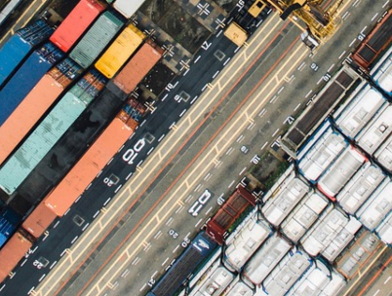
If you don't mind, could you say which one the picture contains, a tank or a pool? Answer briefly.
tank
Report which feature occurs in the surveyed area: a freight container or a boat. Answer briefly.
freight container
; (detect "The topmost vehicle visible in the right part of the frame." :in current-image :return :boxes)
[226,0,272,43]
